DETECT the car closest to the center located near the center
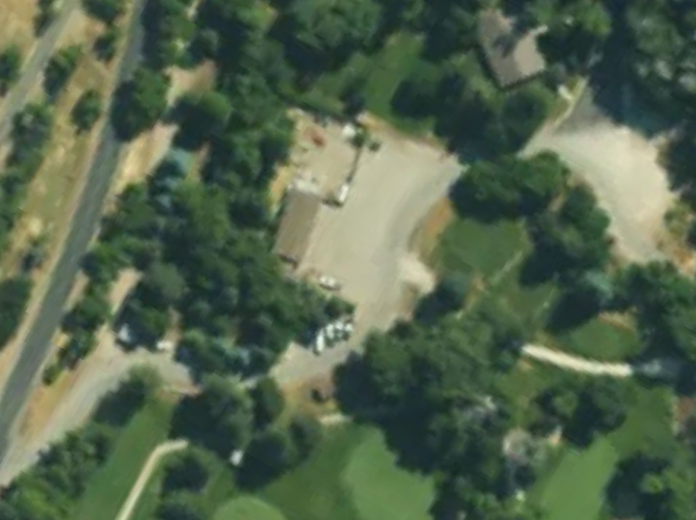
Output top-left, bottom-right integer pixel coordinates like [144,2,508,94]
[320,275,339,287]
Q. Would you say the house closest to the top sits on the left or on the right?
right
